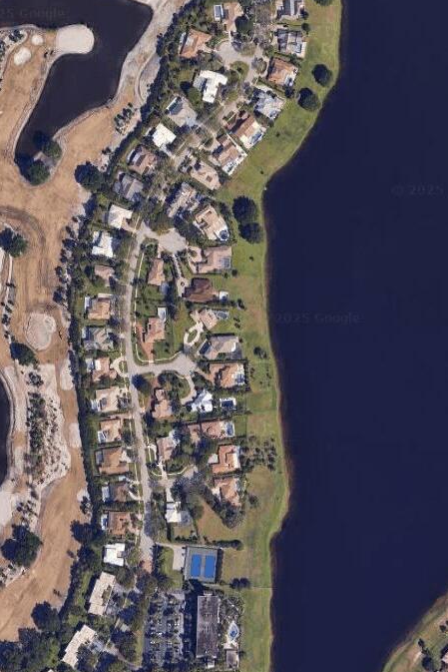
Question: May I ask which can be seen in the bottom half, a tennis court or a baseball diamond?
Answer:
tennis court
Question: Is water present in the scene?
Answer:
Yes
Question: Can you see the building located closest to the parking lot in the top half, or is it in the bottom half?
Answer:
bottom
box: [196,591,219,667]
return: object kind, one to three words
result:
building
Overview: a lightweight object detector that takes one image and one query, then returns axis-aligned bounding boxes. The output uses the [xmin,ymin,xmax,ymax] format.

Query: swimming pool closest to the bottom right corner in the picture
[224,618,240,646]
